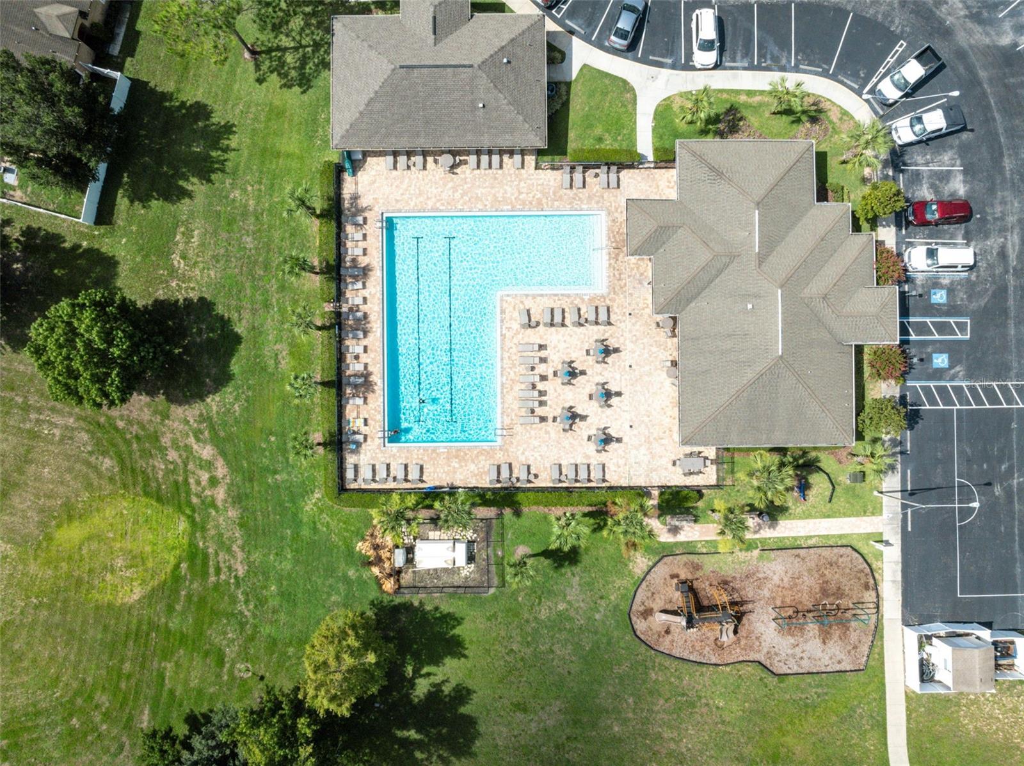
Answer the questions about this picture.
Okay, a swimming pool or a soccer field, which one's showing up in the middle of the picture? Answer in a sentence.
It is a swimming pool that can be seen in the middle of the picture.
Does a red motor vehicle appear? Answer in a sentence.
Yes, the frame does contain a red motor vehicle.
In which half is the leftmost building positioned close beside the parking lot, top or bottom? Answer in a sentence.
The leftmost building positioned close beside the parking lot is in the top half of the image.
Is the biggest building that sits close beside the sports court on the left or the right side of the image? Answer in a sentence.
The biggest building that sits close beside the sports court sits on the right side.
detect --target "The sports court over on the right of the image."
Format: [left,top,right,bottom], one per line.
[954,409,1024,625]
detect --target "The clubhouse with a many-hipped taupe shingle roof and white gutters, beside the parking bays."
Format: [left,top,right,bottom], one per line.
[625,139,900,447]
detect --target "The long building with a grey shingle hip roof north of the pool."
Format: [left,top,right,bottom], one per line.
[330,0,547,152]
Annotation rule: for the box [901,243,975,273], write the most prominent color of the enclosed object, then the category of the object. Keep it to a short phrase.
white car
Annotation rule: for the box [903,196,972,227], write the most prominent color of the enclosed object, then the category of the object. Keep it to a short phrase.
red car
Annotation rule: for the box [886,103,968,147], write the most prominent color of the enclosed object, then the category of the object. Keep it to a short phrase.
white truck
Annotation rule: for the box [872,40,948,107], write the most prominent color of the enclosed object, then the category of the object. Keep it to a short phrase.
white truck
